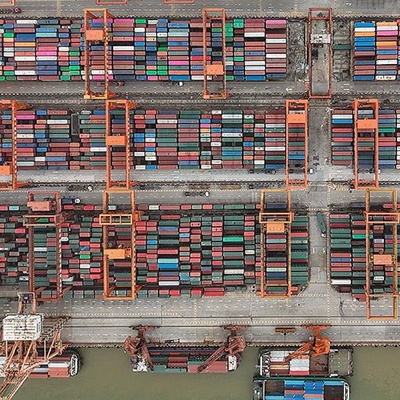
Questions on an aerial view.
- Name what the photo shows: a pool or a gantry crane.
gantry crane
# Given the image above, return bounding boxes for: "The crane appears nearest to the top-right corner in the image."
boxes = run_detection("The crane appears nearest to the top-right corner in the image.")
[302,8,336,98]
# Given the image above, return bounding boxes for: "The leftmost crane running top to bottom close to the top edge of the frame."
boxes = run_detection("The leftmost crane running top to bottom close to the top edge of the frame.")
[84,8,122,100]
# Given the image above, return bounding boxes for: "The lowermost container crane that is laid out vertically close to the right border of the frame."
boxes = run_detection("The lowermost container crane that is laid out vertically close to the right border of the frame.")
[357,189,400,319]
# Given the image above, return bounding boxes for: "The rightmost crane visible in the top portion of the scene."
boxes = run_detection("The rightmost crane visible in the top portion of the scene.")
[346,96,379,189]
